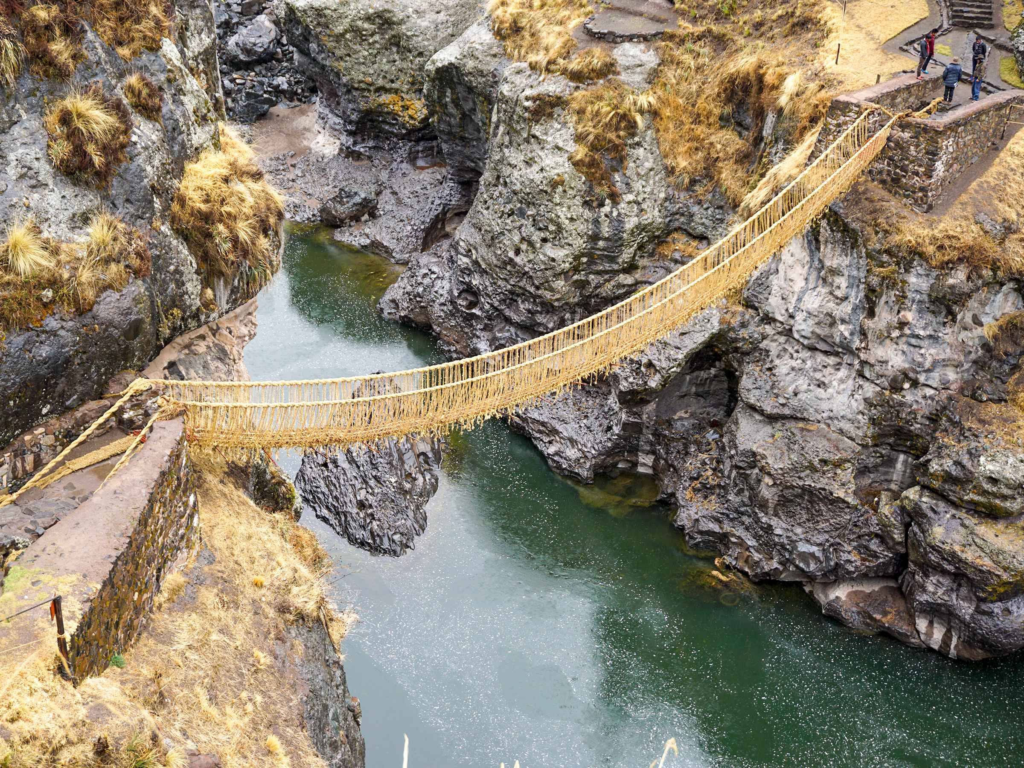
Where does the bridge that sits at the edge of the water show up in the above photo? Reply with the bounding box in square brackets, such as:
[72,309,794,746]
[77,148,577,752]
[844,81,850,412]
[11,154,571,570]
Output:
[0,95,952,506]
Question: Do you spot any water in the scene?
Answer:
Yes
